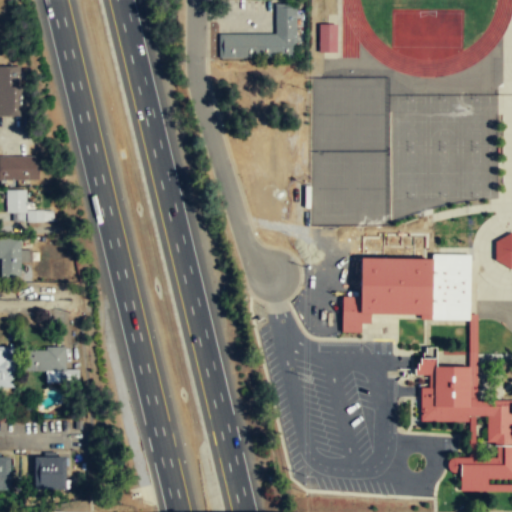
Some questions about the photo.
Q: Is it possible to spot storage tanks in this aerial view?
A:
No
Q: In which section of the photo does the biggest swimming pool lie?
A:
bottom left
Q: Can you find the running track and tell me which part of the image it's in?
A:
top right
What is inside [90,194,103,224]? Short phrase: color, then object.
white vehicle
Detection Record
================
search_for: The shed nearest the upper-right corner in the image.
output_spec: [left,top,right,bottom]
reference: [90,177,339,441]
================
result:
[320,24,338,52]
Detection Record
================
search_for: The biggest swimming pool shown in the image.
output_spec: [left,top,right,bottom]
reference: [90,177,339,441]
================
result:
[38,388,62,413]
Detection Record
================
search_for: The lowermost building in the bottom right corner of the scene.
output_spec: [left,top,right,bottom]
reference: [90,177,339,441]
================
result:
[450,448,512,492]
